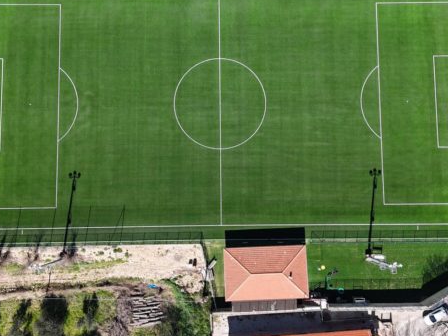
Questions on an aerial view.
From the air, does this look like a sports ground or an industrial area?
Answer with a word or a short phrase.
sports ground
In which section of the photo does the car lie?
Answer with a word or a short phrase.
bottom right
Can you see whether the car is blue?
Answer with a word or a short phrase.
No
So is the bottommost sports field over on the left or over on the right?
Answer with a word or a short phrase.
right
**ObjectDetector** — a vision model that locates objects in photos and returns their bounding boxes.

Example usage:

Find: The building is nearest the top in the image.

[224,245,309,302]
